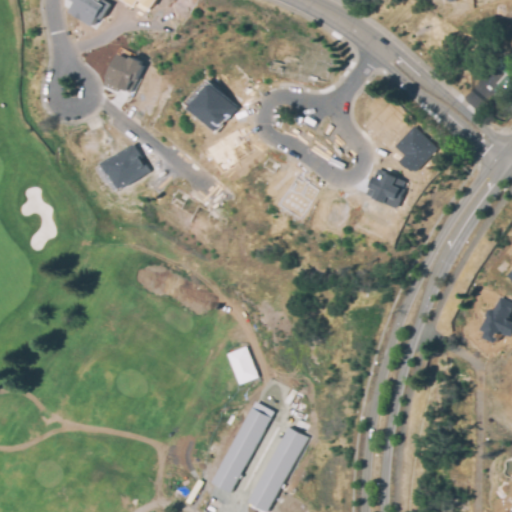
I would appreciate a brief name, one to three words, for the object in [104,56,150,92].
house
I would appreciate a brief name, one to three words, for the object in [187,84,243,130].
house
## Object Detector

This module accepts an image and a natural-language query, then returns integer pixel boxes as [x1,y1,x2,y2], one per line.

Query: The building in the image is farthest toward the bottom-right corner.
[481,296,512,342]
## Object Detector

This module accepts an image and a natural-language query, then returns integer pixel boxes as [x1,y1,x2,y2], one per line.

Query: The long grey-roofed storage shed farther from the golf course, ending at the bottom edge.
[249,428,311,512]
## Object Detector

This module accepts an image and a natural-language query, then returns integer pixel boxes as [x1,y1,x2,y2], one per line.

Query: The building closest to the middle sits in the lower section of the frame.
[228,346,260,386]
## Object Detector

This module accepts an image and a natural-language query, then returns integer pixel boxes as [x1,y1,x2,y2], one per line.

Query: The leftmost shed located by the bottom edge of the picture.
[214,400,276,492]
